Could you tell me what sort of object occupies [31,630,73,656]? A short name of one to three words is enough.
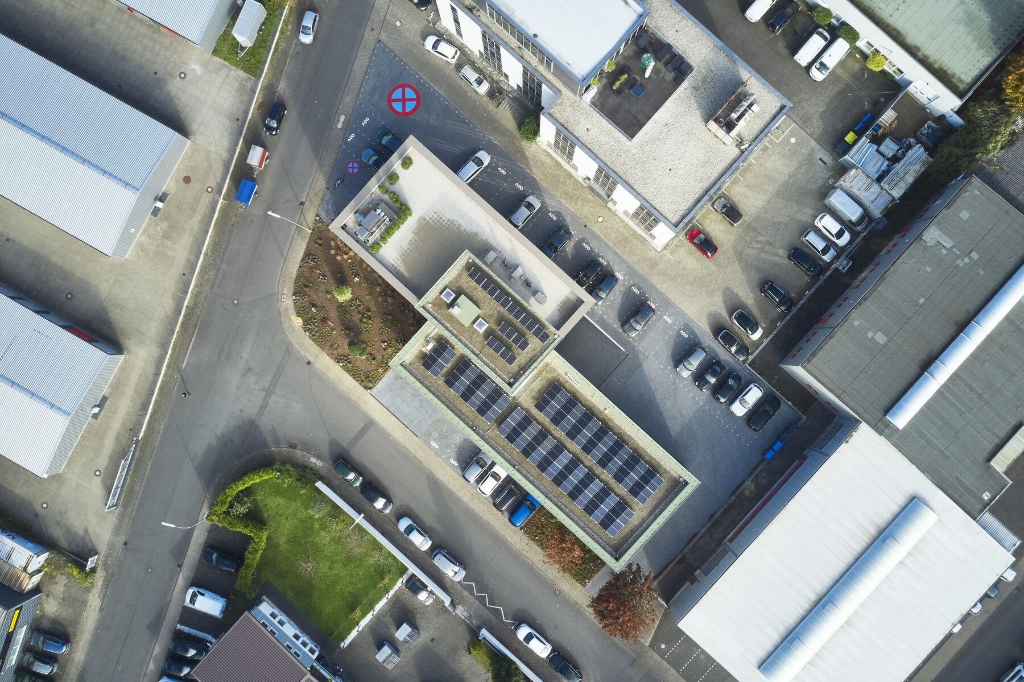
car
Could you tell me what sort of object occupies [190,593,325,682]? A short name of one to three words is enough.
house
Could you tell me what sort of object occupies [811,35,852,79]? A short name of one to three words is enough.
van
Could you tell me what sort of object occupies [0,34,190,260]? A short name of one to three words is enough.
hangar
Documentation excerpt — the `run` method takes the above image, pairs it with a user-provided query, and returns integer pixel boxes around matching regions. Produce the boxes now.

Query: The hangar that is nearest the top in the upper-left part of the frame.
[100,0,238,57]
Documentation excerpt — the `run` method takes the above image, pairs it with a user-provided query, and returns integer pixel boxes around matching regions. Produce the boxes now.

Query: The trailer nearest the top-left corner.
[229,0,267,58]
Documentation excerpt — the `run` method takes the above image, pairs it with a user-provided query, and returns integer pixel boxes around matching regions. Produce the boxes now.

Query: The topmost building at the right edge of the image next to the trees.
[804,0,1024,138]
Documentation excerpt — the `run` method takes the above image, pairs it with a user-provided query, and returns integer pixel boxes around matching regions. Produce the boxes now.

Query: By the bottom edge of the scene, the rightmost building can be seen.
[667,417,1016,682]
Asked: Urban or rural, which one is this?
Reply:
urban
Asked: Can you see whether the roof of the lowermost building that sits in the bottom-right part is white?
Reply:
Yes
